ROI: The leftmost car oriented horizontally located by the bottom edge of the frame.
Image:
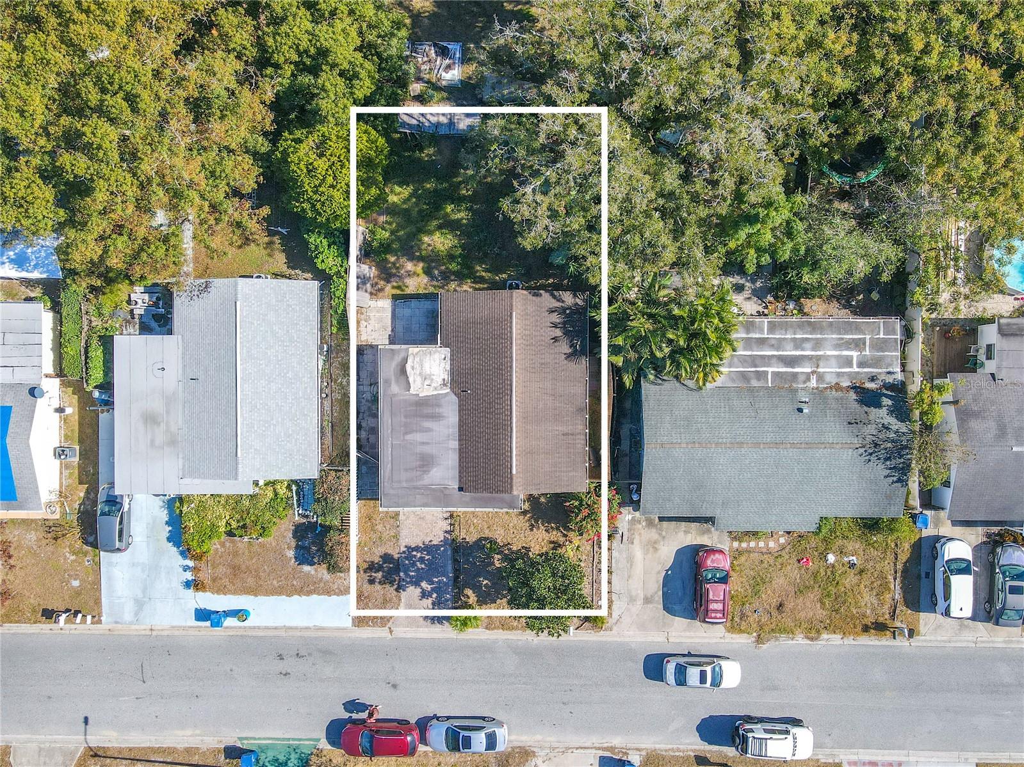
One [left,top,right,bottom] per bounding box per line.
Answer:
[342,719,421,757]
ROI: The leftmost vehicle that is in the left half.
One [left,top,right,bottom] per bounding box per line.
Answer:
[96,483,134,554]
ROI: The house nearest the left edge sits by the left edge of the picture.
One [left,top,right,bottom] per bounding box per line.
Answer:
[0,301,60,512]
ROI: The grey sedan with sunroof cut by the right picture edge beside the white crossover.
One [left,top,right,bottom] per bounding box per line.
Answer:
[985,542,1024,628]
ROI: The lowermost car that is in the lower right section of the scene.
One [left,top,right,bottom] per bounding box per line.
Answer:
[733,718,815,760]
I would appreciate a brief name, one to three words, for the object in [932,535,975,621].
car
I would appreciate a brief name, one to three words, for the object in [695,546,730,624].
car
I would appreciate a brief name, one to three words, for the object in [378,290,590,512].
house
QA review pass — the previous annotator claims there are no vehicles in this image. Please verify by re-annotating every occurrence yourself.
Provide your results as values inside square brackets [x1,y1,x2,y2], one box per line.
[932,535,975,621]
[342,719,421,757]
[96,483,134,554]
[733,718,815,760]
[662,653,740,689]
[425,716,508,753]
[985,542,1024,628]
[695,546,730,624]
